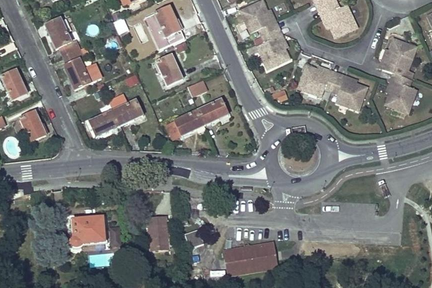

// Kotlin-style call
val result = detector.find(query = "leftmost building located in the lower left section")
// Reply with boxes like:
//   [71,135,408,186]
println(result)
[68,210,107,254]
